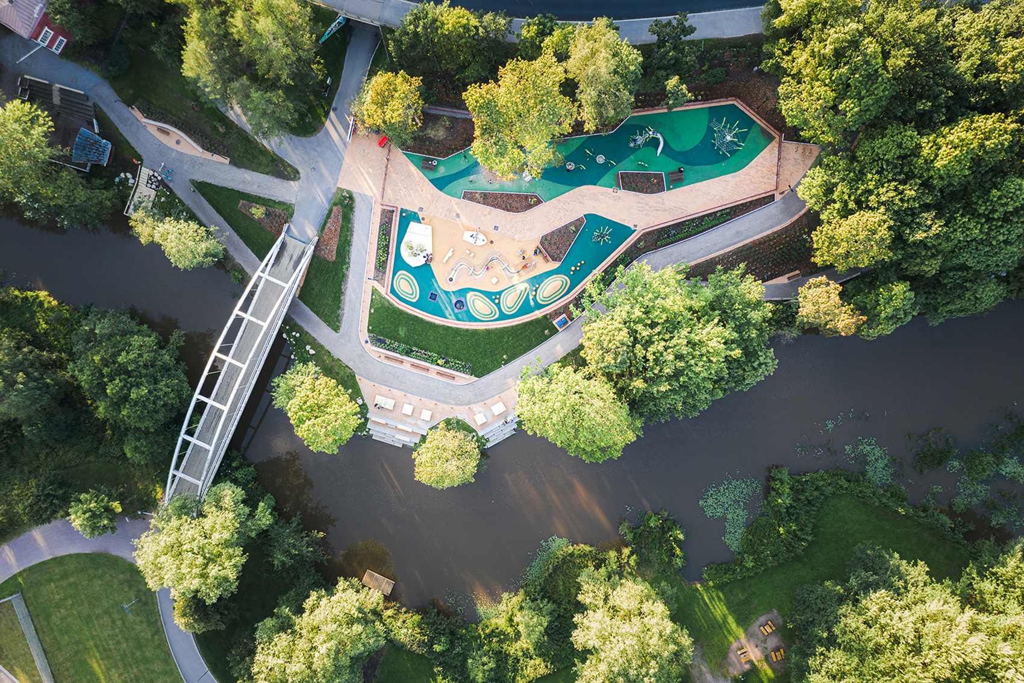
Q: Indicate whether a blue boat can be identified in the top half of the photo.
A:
No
